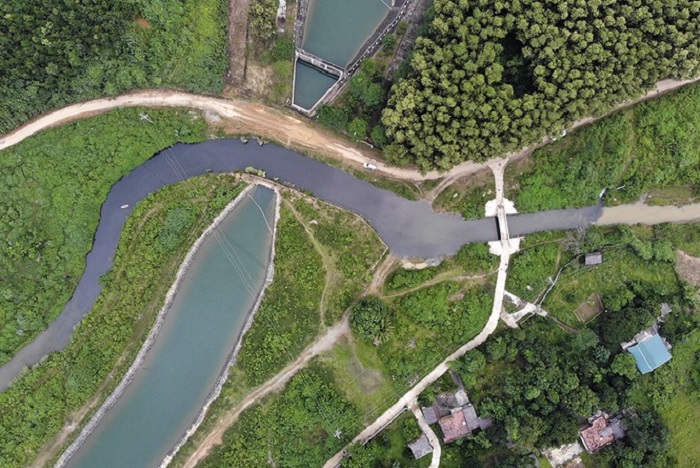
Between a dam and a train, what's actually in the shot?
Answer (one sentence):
Of the two, only a dam appears.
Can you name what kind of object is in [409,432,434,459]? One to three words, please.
shed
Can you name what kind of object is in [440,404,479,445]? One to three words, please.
house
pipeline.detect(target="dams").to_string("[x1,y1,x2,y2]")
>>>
[292,47,346,113]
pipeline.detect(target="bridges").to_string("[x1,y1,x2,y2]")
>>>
[484,199,520,257]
